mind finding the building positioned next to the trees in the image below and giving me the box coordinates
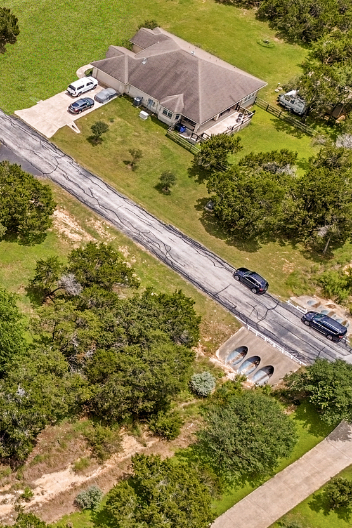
[89,27,270,140]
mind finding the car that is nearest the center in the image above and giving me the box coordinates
[233,265,272,295]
